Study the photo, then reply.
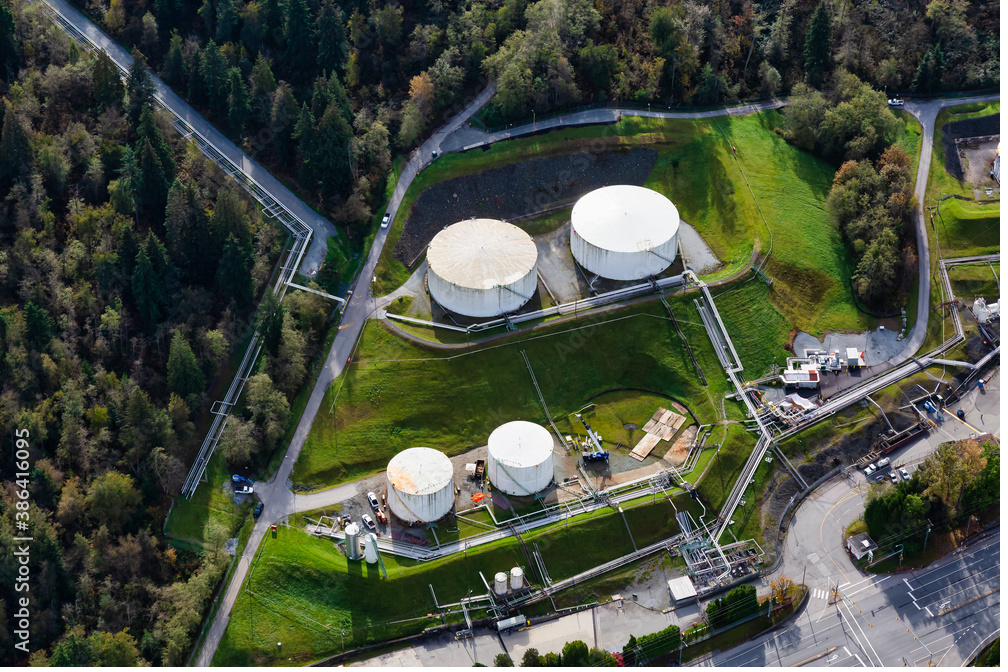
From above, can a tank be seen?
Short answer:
Yes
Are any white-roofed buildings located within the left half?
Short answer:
No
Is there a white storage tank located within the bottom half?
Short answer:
Yes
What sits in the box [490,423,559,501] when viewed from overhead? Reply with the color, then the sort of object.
white storage tank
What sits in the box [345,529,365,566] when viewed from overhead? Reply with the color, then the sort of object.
gray silo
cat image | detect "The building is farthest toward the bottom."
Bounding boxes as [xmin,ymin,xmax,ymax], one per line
[673,580,703,611]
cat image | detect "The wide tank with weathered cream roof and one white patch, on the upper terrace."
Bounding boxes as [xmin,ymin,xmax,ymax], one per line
[429,219,542,322]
